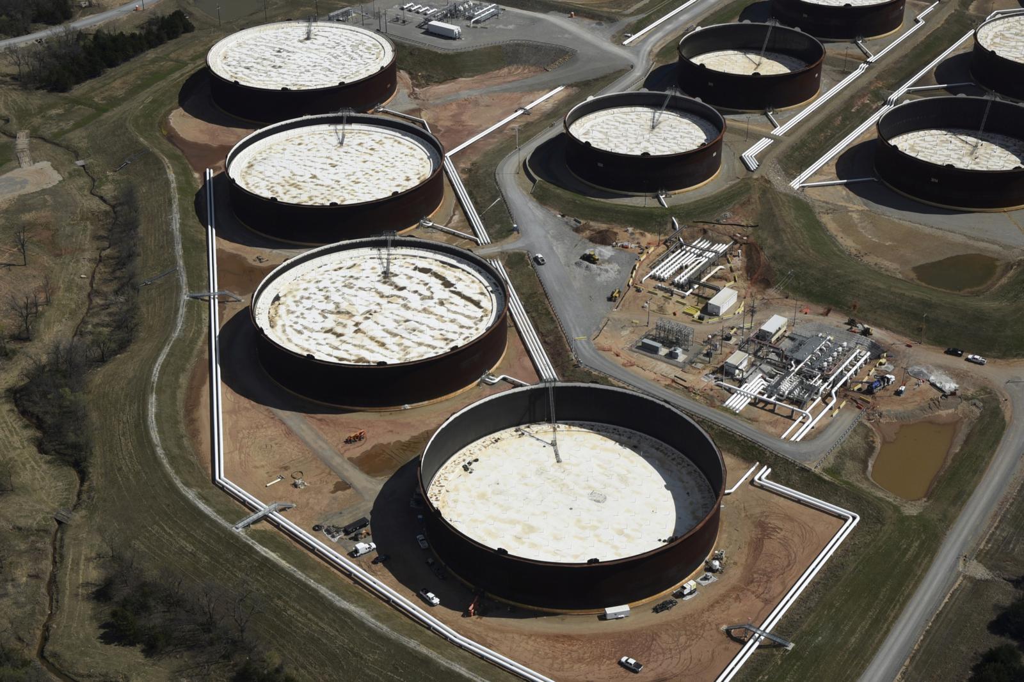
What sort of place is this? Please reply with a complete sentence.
It's an industrial area.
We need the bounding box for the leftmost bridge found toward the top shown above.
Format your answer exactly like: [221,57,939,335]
[15,129,35,168]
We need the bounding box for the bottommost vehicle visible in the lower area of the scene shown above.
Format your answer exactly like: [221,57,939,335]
[619,654,644,671]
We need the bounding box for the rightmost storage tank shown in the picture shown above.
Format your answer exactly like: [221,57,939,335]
[967,9,1024,98]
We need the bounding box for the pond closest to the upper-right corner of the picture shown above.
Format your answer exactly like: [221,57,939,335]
[912,255,999,291]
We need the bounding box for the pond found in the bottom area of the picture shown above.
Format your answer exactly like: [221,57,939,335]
[870,418,964,501]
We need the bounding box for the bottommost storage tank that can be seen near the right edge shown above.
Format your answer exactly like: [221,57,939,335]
[872,88,1024,211]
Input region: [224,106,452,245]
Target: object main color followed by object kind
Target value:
white storage tank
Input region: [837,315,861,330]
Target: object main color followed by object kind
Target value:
black work vehicle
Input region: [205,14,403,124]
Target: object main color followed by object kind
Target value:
white storage tank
